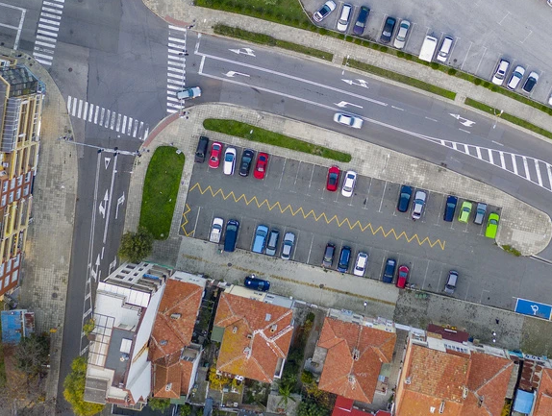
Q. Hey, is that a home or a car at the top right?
car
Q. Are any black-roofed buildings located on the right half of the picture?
No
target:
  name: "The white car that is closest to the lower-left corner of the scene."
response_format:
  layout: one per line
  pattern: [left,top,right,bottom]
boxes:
[210,216,224,242]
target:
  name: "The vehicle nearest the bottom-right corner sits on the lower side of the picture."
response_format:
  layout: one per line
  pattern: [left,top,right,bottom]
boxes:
[445,269,457,293]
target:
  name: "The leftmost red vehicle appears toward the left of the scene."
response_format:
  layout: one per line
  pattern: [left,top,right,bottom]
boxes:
[207,140,223,168]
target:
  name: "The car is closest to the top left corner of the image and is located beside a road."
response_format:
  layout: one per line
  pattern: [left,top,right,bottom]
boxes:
[175,85,204,100]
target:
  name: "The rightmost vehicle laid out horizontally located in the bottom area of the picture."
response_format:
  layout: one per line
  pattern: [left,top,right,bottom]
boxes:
[242,275,271,291]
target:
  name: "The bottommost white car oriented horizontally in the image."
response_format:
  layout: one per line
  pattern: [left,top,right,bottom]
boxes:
[333,113,363,127]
